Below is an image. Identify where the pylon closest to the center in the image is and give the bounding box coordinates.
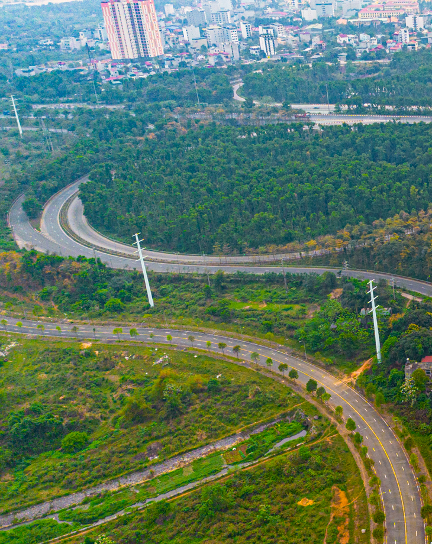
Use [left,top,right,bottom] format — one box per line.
[132,232,157,306]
